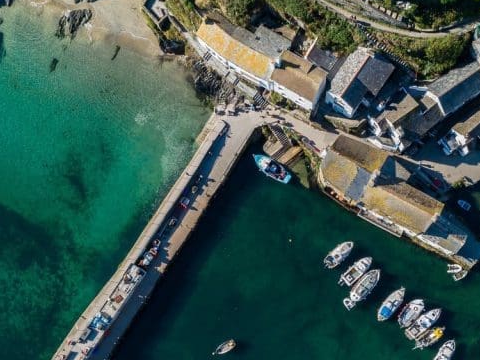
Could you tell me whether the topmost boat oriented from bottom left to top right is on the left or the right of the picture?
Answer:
right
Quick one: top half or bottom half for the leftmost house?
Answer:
top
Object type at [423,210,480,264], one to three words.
house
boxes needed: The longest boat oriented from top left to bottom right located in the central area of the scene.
[254,154,293,186]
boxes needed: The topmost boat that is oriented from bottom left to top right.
[323,244,352,269]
